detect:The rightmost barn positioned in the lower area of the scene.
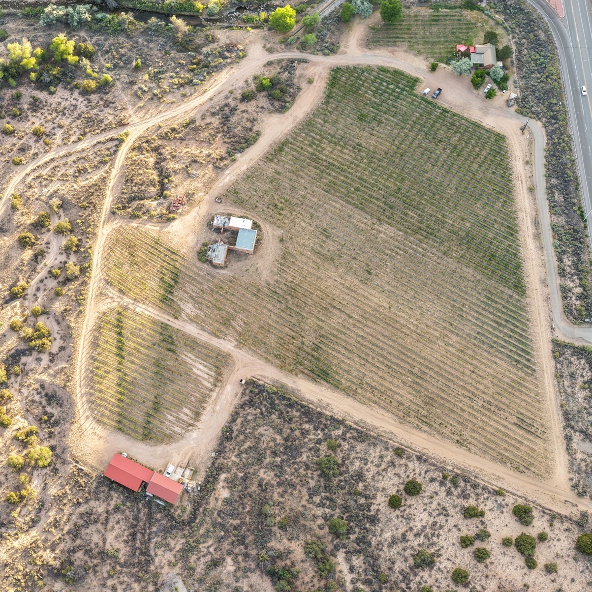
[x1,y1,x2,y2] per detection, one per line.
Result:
[146,472,184,505]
